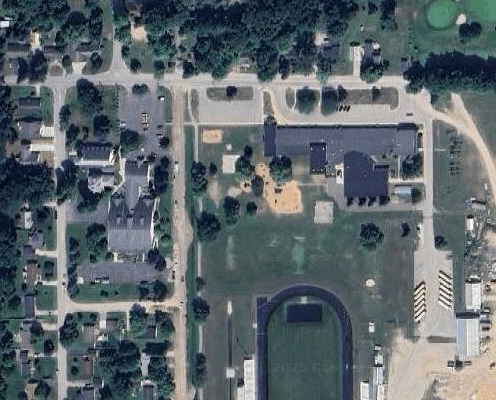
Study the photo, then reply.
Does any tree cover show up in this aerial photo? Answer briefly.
Yes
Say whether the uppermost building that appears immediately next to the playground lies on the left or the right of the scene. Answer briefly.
right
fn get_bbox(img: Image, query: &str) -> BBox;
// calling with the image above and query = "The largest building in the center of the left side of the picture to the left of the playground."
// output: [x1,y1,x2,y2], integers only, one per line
[107,158,154,248]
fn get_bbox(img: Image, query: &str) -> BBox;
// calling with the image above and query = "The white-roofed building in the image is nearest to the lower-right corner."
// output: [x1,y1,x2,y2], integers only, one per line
[457,317,478,357]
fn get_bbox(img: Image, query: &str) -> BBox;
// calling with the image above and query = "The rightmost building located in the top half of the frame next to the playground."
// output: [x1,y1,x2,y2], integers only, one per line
[265,124,416,196]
